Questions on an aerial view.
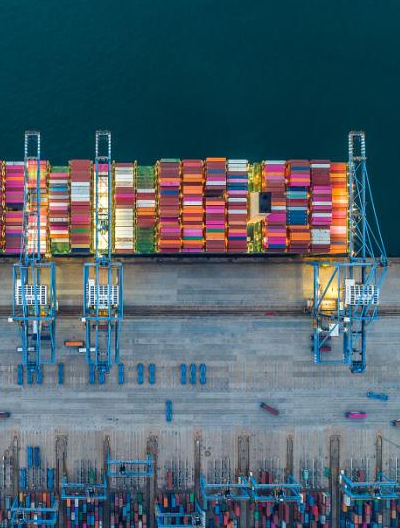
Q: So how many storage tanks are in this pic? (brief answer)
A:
none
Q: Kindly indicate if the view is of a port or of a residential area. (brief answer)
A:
port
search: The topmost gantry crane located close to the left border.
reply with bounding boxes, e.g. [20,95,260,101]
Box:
[7,124,59,372]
